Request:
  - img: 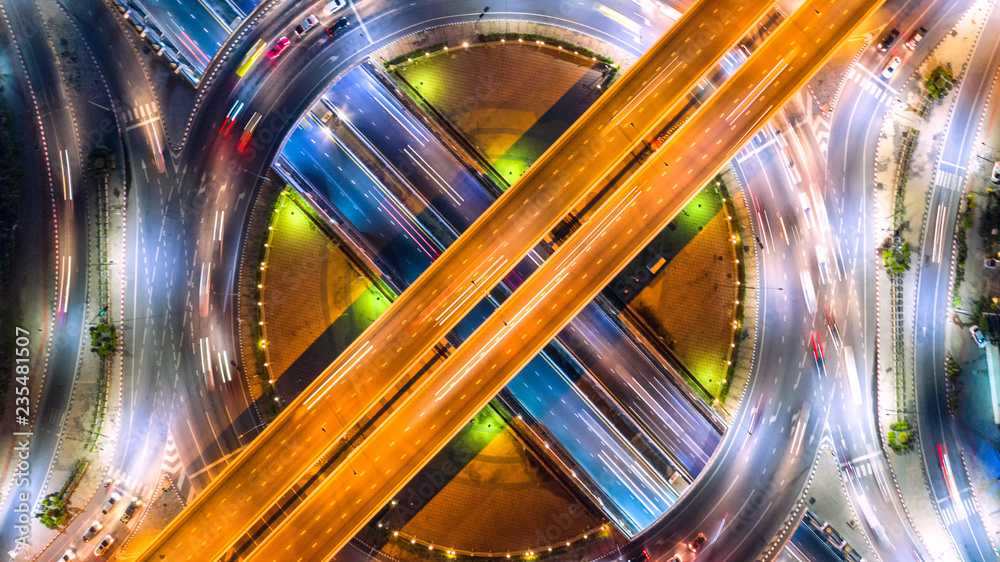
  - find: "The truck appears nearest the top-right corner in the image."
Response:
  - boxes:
[905,24,930,50]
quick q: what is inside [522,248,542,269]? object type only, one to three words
car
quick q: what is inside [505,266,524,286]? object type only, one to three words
car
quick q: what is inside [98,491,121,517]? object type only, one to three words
truck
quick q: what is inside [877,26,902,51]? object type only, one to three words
truck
